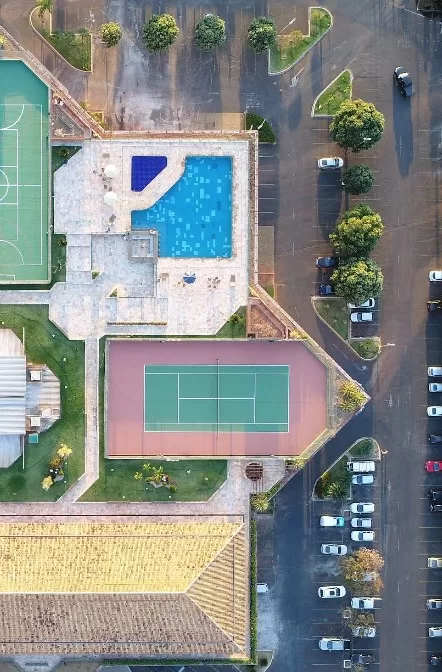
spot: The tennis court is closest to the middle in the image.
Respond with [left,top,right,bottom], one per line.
[102,339,334,463]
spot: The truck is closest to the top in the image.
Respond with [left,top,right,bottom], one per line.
[392,66,415,99]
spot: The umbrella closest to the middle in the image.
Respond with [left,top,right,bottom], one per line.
[183,272,197,285]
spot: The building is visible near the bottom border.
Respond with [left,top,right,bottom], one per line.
[0,514,249,658]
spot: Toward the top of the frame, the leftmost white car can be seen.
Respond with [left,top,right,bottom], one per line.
[317,156,344,169]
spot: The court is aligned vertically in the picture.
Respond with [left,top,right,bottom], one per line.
[0,55,50,280]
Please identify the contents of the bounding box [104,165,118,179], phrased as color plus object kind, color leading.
white umbrella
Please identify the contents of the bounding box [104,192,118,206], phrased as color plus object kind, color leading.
white umbrella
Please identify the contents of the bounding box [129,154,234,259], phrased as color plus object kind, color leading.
blue swimming pool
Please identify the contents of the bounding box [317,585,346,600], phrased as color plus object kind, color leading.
white car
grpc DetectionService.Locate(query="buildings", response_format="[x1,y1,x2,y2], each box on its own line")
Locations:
[0,328,30,469]
[0,514,249,658]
